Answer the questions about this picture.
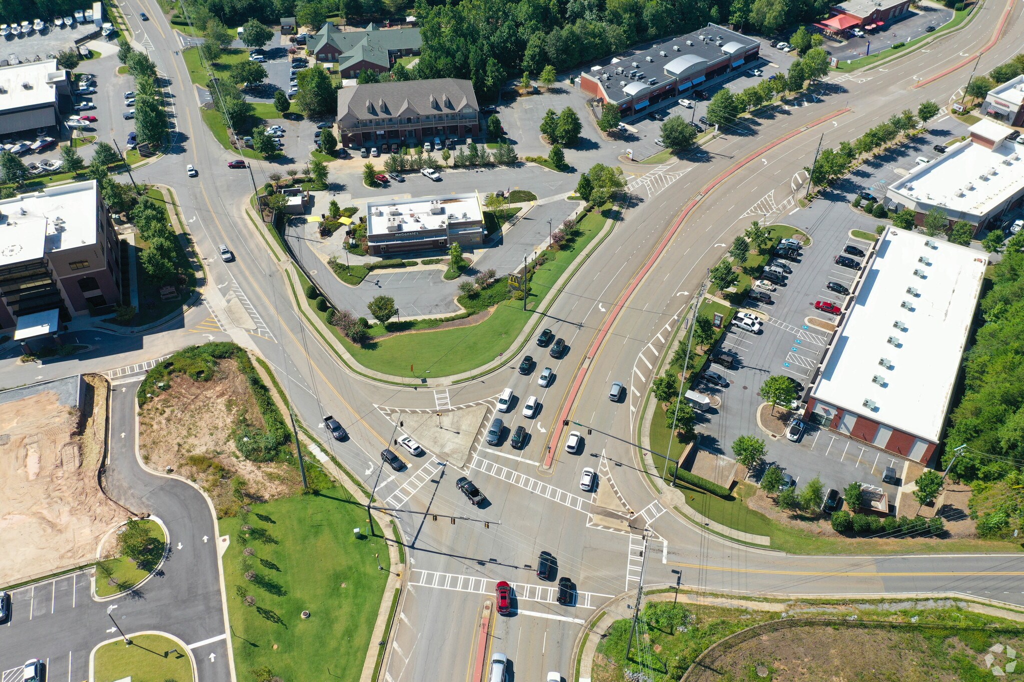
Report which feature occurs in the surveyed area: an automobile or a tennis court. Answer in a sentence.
Looking from above, you can make out an automobile.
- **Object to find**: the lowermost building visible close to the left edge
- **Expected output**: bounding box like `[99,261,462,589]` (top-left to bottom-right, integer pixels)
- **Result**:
[0,180,122,328]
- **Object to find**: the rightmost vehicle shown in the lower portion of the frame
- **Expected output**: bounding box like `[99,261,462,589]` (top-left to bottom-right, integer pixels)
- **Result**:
[881,462,898,489]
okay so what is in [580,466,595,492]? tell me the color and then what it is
white car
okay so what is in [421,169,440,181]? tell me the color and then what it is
white vehicle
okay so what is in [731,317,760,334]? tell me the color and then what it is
white vehicle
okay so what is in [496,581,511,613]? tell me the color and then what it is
red car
